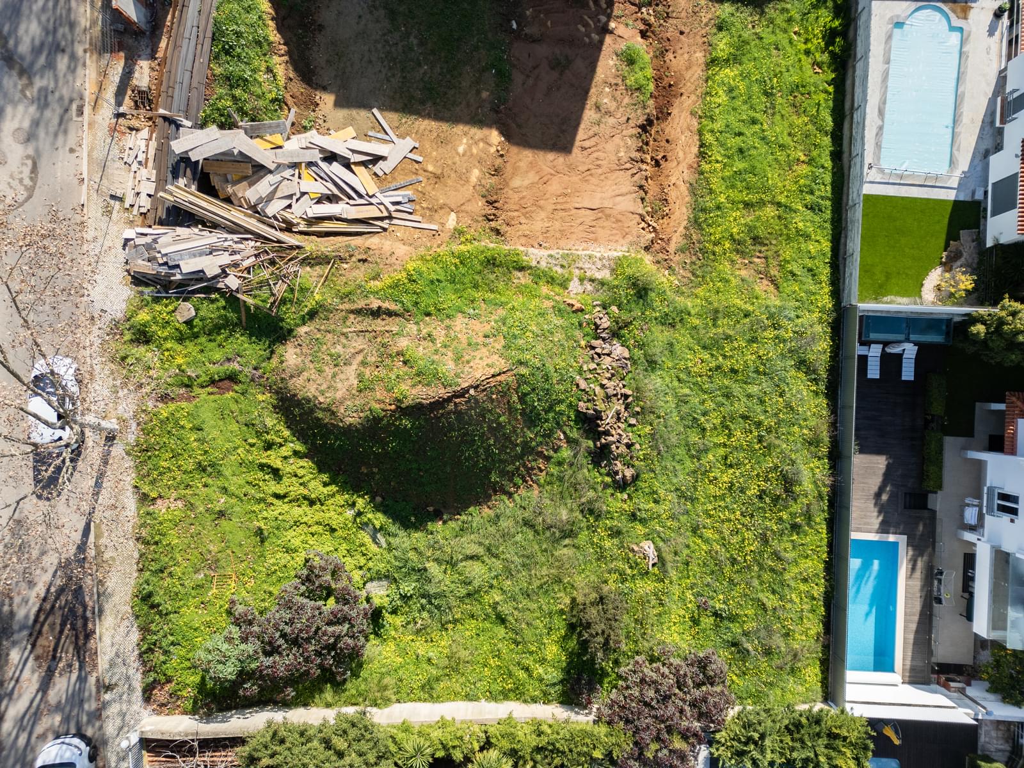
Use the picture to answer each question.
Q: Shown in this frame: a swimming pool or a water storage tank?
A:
swimming pool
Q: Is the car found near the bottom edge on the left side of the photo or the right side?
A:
left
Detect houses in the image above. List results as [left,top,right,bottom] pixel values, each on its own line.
[989,0,1024,248]
[956,392,1024,670]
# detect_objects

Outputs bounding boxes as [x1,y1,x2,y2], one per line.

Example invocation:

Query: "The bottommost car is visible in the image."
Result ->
[42,734,97,768]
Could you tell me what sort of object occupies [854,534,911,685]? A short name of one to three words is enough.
swimming pool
